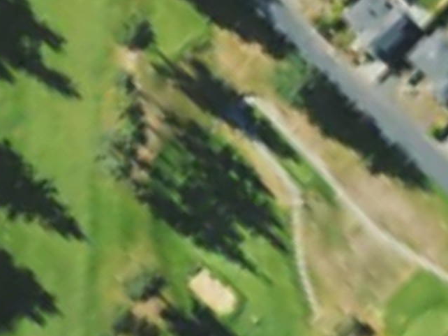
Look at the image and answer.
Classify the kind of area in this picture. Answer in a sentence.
This looks like a golf course.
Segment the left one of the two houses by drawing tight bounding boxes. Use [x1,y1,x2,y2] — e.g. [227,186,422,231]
[346,0,420,64]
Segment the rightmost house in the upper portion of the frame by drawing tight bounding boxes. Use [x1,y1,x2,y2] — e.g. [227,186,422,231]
[405,26,448,92]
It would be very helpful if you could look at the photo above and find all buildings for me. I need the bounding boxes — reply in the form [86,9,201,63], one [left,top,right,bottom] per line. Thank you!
[346,0,420,64]
[405,26,448,92]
